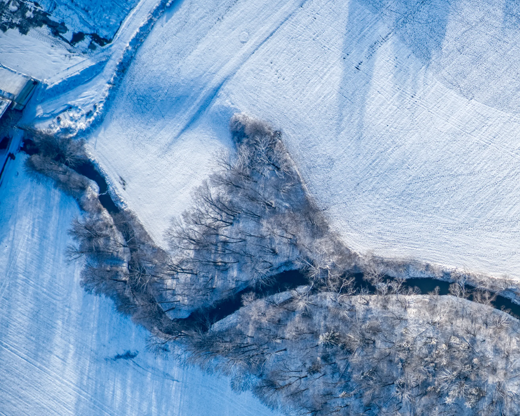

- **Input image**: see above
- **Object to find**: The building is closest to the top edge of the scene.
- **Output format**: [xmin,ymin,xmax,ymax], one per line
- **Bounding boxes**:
[0,66,35,100]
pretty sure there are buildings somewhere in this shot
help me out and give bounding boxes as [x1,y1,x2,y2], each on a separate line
[0,66,35,100]
[0,96,18,120]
